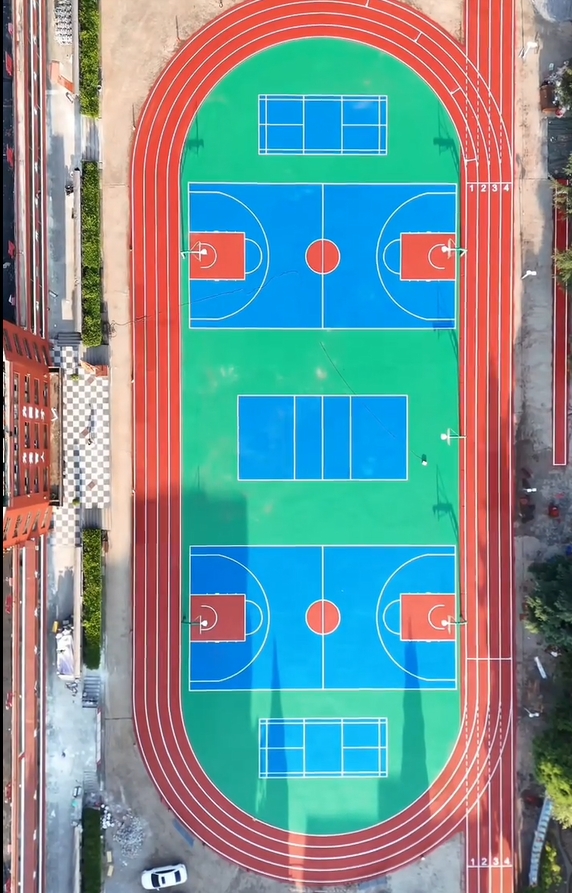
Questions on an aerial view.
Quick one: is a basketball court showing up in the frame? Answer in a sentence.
Yes, this view includes a basketball court.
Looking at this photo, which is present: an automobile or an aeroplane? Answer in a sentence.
The image shows an automobile.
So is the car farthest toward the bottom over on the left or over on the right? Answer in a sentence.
You can find the car farthest toward the bottom on the left side of the picture.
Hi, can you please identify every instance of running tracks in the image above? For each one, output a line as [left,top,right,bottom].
[132,0,518,893]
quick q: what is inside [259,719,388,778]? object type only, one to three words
sports court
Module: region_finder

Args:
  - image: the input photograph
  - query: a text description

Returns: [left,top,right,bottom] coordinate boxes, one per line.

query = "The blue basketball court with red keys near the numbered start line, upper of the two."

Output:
[189,182,457,329]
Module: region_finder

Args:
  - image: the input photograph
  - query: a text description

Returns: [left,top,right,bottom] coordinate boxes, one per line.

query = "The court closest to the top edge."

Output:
[258,94,387,154]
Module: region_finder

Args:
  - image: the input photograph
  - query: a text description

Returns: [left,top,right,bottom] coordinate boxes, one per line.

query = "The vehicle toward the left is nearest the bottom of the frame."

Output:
[141,863,188,890]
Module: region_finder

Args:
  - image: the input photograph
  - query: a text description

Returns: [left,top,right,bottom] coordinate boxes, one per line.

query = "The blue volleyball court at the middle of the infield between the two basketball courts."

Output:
[237,395,408,481]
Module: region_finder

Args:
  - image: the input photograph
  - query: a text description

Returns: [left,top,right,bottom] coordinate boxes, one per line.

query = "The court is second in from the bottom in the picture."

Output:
[189,546,457,691]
